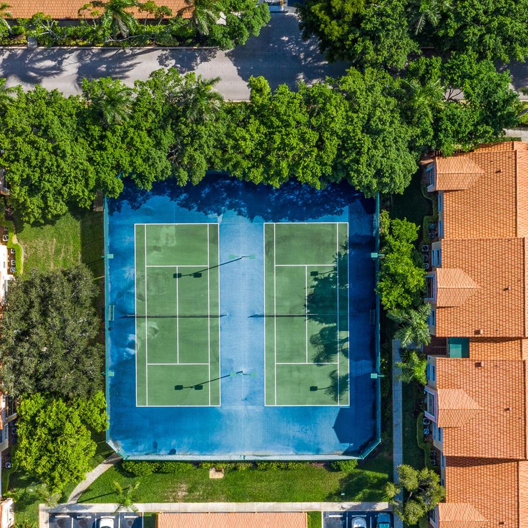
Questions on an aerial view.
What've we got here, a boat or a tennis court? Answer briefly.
tennis court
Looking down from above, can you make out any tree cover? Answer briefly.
Yes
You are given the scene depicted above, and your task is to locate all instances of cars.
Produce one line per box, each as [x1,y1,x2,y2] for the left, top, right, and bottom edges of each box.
[98,516,114,528]
[350,516,367,528]
[376,511,394,528]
